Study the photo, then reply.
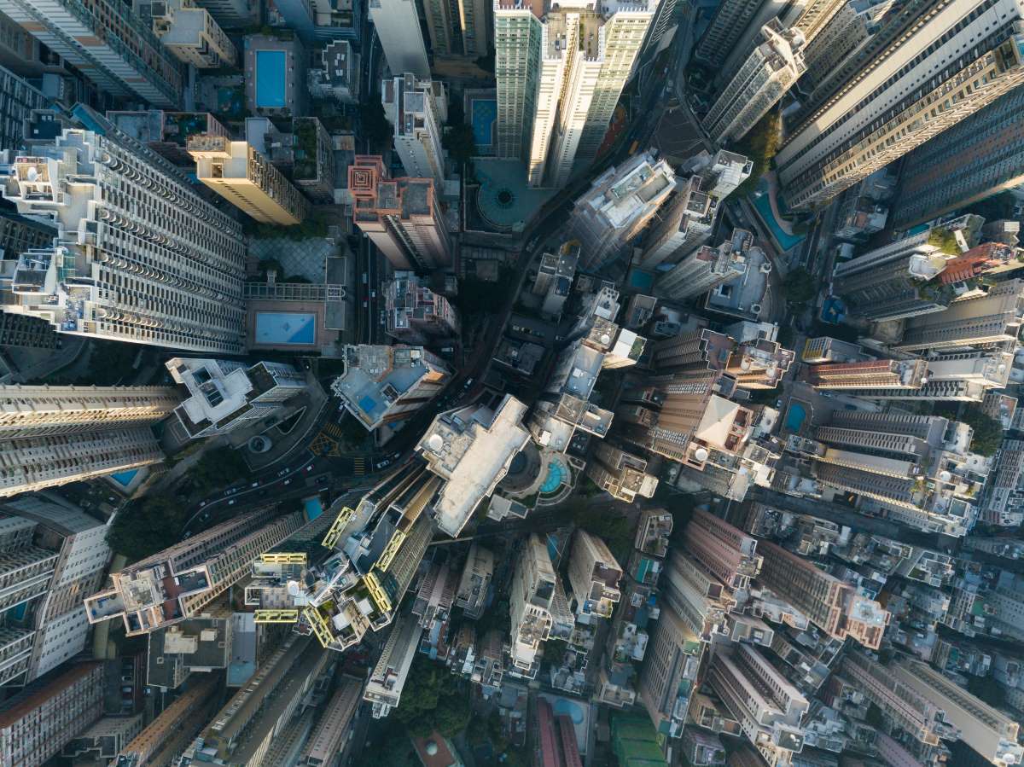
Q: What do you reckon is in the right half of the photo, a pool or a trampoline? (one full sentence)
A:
Visible in the right half of the photo is a pool.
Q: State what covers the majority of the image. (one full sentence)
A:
The bulk of the photo consists of buildings.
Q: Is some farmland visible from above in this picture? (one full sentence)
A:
No, there is no farmland in the image.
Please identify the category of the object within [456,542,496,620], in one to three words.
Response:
building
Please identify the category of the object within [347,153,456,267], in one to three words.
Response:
building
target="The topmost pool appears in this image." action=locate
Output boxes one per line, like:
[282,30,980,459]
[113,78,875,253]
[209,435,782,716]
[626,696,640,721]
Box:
[256,50,286,106]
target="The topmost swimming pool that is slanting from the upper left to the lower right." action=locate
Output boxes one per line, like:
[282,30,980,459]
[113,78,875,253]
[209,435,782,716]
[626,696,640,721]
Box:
[755,192,802,248]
